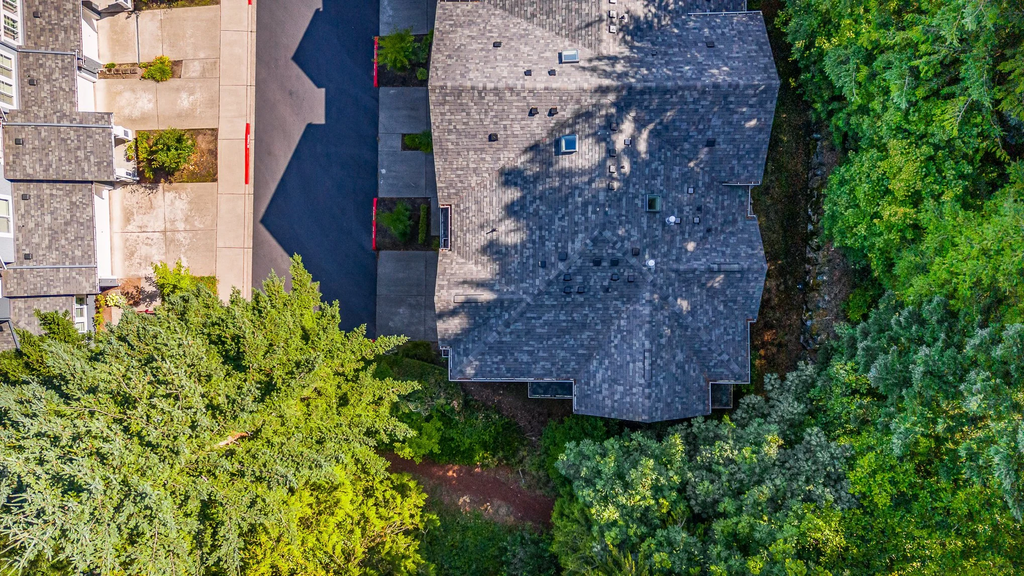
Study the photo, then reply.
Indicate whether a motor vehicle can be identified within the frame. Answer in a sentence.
No, I can see no motor vehicle in this picture.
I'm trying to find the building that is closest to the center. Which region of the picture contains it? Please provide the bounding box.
[427,0,779,422]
